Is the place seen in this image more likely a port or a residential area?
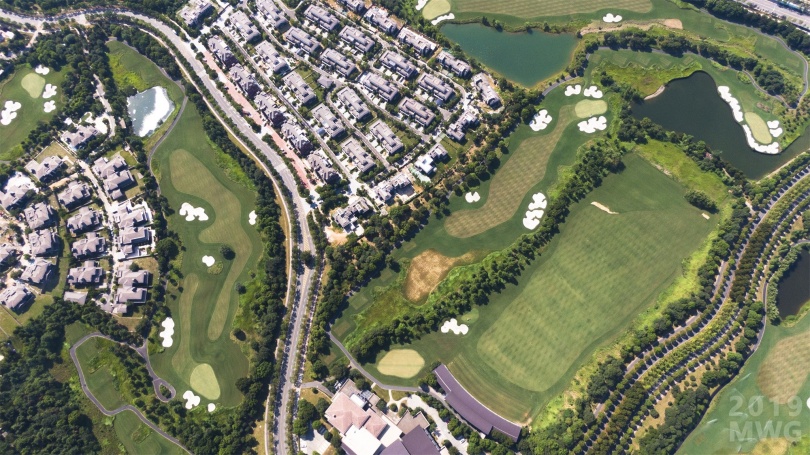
residential area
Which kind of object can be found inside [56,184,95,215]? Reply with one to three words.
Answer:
house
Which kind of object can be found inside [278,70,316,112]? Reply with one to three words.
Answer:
house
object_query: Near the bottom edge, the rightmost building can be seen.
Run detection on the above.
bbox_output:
[433,363,521,443]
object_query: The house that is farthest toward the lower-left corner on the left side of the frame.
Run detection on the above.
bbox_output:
[1,283,35,317]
